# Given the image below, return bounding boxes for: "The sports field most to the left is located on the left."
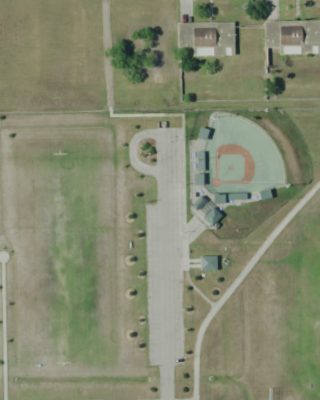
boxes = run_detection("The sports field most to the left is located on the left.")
[18,142,106,371]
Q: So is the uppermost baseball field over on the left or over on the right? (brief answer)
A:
right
